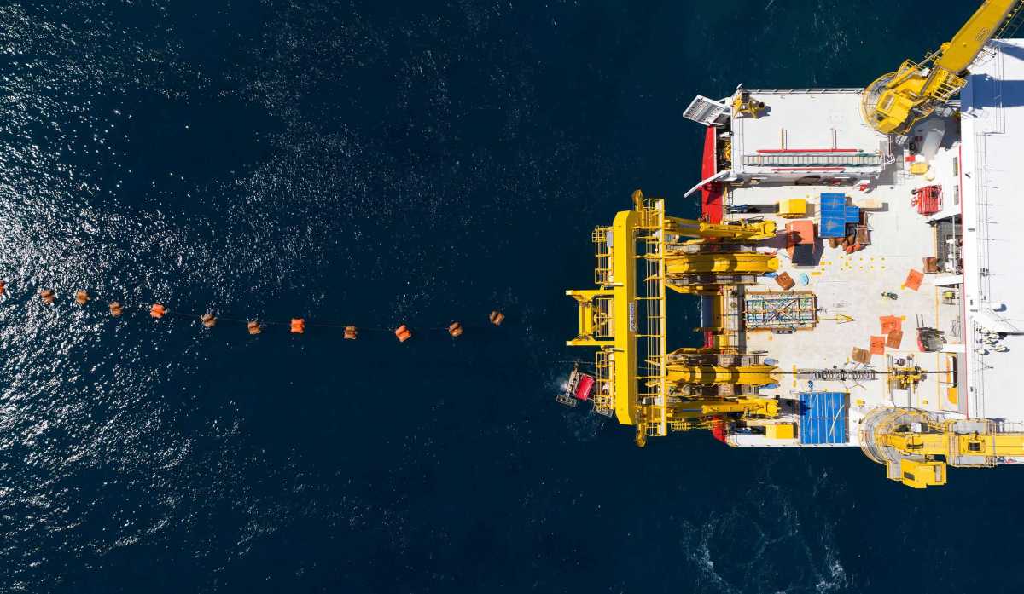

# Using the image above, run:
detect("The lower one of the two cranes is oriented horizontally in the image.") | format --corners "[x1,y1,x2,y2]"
[850,401,1024,489]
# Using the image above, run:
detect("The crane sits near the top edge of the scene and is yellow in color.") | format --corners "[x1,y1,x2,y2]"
[860,0,1024,137]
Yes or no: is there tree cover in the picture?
No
